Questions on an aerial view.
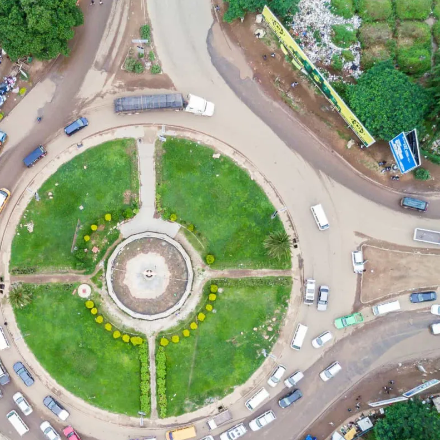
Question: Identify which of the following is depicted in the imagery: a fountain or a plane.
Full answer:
The one in the frame is a fountain.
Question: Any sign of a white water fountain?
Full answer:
Yes, this view includes a white water fountain.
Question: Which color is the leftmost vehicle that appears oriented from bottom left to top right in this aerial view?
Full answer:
The leftmost vehicle that appears oriented from bottom left to top right is blue.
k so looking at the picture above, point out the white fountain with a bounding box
[104,230,194,319]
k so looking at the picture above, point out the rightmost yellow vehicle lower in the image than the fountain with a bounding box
[166,425,197,440]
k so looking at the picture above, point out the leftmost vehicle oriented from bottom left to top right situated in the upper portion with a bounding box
[22,145,48,169]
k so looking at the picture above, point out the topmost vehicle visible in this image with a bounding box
[116,93,215,115]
